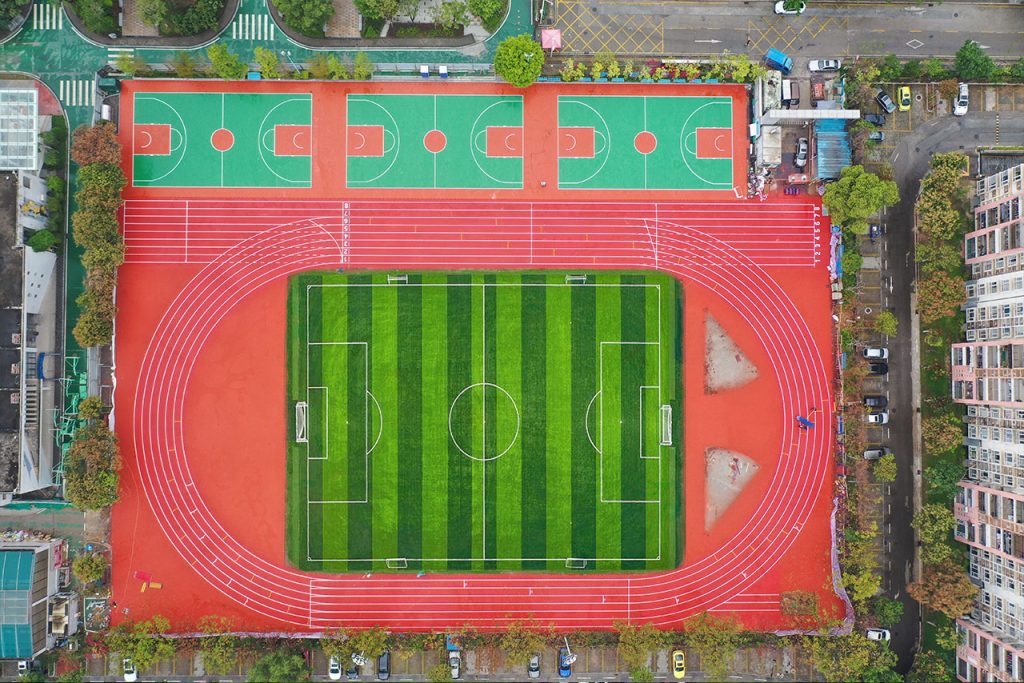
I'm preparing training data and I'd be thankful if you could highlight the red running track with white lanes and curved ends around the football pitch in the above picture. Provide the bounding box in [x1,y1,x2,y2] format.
[110,197,846,636]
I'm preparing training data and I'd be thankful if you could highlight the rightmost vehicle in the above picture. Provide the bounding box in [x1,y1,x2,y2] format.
[955,80,974,113]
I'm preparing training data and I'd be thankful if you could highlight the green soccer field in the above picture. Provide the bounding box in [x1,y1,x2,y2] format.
[287,270,684,574]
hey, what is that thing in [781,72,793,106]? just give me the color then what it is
white vehicle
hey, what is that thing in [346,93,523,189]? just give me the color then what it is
green basketball court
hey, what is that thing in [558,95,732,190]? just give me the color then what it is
green basketball court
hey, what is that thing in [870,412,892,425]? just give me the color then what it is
white vehicle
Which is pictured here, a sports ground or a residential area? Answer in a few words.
sports ground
